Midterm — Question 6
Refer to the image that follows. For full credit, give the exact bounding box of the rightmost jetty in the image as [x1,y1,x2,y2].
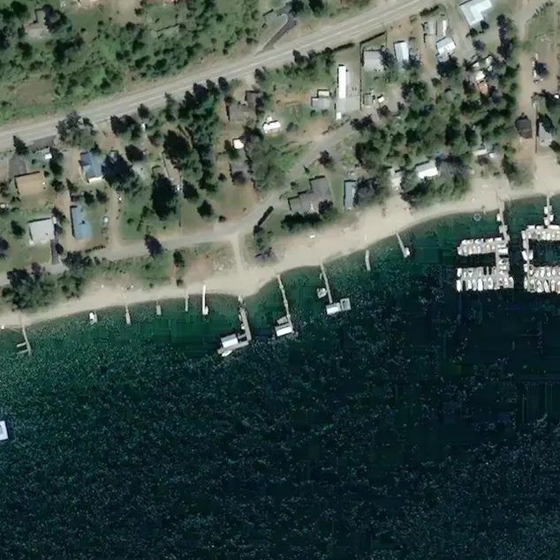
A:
[524,194,560,294]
